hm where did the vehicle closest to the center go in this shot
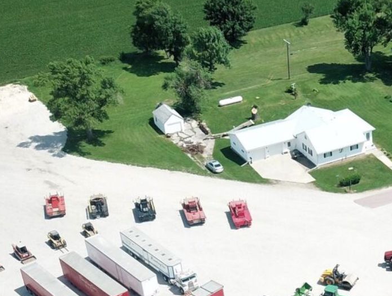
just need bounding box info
[202,160,228,173]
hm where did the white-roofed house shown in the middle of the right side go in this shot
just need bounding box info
[224,100,379,168]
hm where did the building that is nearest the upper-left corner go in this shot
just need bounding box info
[152,103,183,135]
